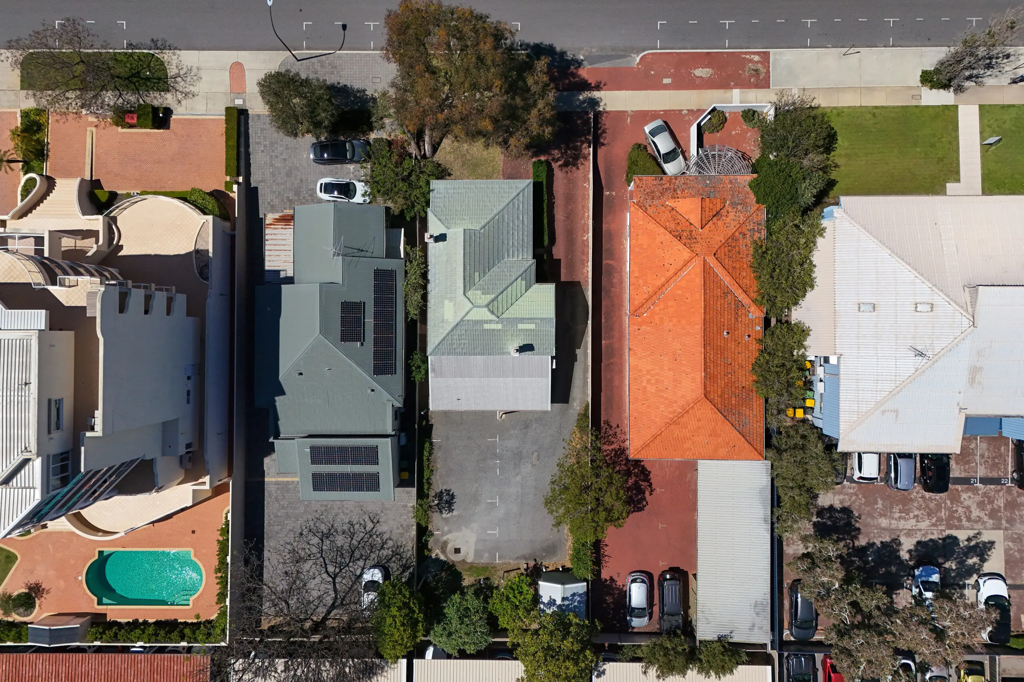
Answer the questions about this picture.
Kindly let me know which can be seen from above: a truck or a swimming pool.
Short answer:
swimming pool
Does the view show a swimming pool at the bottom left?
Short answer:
Yes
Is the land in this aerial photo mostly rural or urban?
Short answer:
urban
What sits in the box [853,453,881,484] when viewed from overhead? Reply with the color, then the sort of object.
white car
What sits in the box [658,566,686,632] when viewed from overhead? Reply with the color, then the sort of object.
black car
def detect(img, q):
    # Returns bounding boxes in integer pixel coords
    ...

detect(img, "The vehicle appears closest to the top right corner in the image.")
[644,119,683,174]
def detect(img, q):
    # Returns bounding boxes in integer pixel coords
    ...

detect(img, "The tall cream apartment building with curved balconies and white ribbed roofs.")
[0,172,230,541]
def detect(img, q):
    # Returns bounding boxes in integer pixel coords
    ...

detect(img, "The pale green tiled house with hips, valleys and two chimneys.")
[425,179,556,411]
